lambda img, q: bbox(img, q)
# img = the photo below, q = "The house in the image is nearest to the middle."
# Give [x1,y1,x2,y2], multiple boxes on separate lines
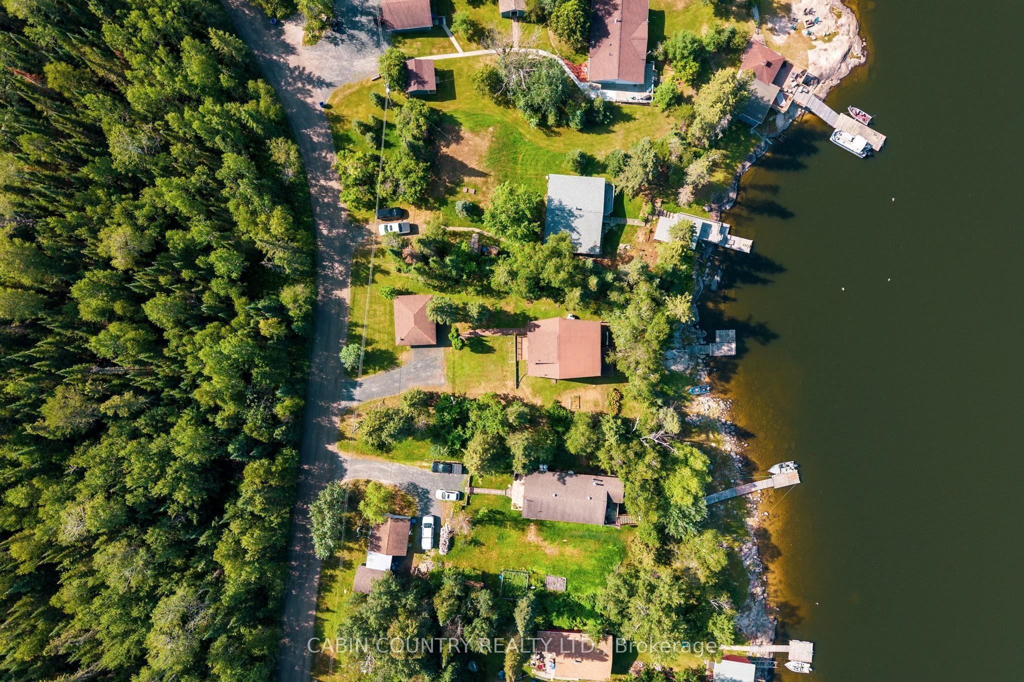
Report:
[527,321,602,376]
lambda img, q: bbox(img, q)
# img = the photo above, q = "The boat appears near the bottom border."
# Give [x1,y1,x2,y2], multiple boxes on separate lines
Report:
[783,661,816,674]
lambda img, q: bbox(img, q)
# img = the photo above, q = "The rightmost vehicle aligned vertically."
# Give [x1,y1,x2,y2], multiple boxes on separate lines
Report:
[421,515,436,551]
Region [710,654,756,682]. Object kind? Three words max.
building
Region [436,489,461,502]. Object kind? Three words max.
vehicle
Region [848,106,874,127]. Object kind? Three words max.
boat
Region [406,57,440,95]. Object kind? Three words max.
shed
